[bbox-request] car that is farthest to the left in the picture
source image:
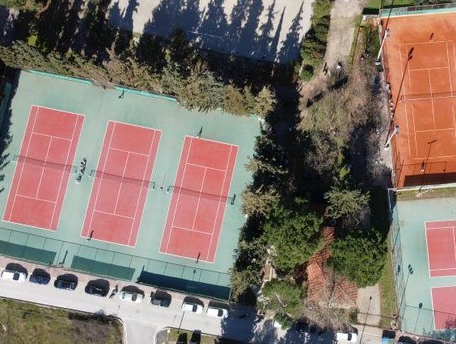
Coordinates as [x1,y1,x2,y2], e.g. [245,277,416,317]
[1,271,25,284]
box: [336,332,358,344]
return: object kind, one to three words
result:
vehicle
